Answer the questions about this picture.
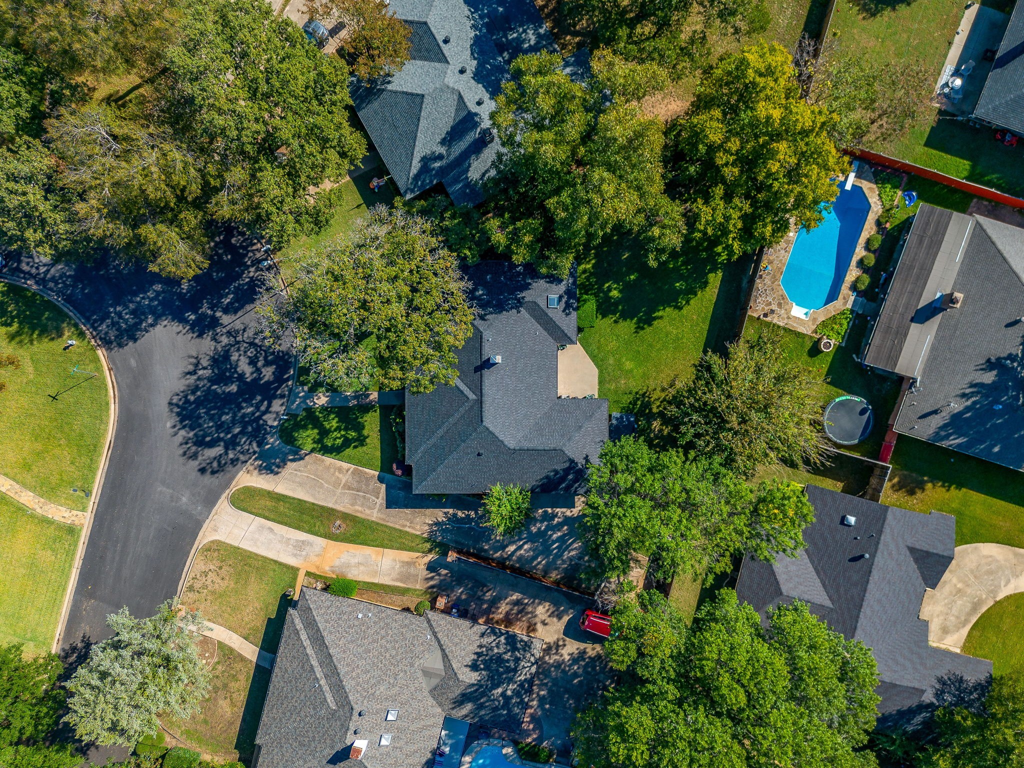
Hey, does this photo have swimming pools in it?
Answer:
Yes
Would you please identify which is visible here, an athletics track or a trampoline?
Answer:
trampoline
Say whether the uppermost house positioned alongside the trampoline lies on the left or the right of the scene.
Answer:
right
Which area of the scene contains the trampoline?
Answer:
right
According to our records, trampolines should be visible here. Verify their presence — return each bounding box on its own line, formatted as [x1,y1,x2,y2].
[822,395,876,446]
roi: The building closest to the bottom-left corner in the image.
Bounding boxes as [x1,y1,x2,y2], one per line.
[255,584,546,768]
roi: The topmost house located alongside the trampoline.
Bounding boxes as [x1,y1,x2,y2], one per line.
[890,217,1024,474]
